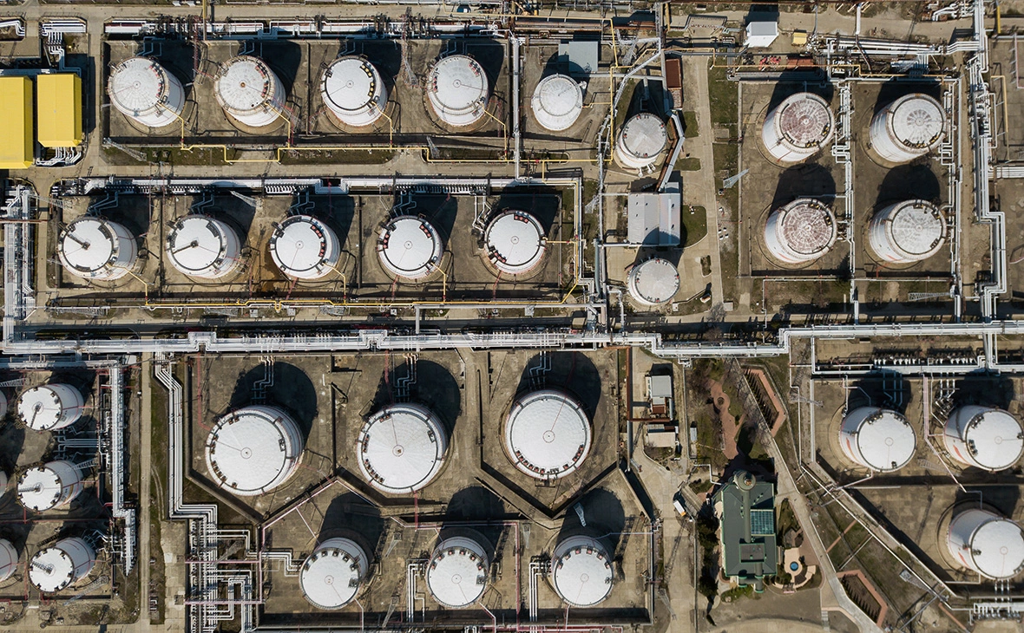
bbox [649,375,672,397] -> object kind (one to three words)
building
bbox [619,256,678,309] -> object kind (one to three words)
storage tank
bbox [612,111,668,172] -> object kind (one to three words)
storage tank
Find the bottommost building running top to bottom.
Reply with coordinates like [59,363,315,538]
[709,462,778,593]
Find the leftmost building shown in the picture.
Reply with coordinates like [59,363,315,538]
[0,76,39,166]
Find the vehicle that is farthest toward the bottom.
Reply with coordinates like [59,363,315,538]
[673,501,686,517]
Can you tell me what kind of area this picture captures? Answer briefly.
industrial area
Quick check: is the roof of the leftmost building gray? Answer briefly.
No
